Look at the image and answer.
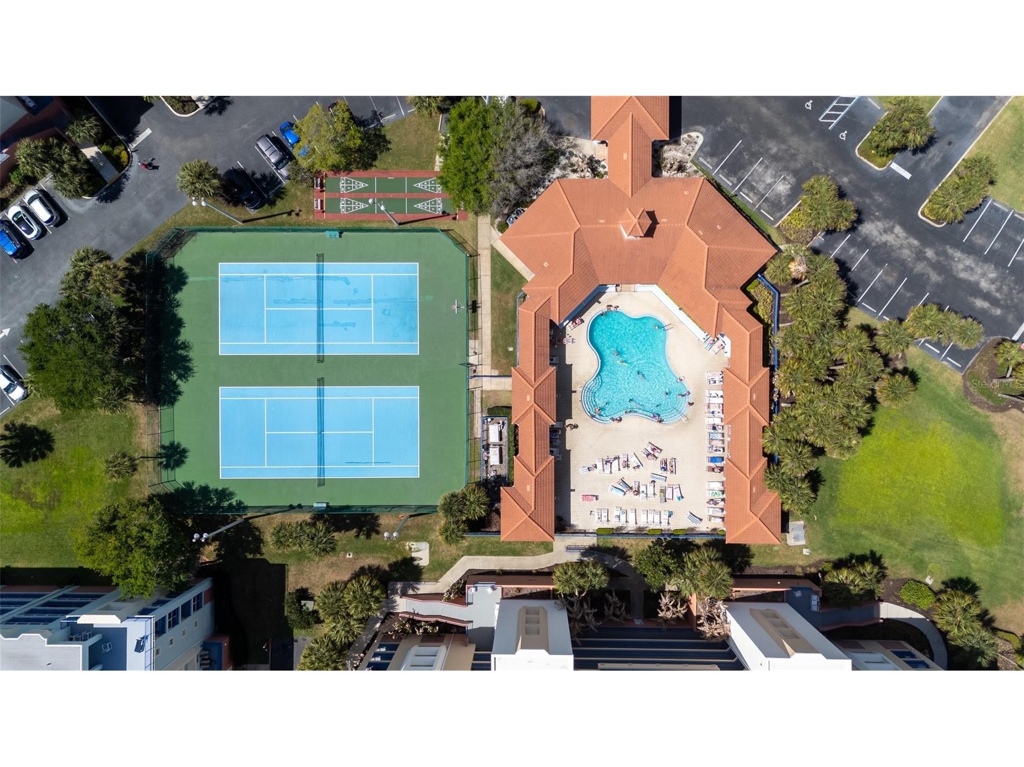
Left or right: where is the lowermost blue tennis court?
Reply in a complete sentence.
The lowermost blue tennis court appears in the left half of the scene.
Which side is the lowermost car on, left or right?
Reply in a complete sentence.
The lowermost car sits on the left side.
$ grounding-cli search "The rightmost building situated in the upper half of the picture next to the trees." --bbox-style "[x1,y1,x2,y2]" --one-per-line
[499,20,782,545]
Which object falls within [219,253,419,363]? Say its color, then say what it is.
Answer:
blue tennis court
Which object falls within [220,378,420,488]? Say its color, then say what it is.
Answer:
blue tennis court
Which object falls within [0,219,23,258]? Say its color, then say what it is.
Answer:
blue car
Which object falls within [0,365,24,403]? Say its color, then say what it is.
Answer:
white car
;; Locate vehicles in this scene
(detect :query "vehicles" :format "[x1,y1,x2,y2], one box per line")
[223,166,261,209]
[276,117,310,156]
[0,365,24,403]
[0,219,23,258]
[255,134,293,178]
[21,187,58,227]
[3,201,39,241]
